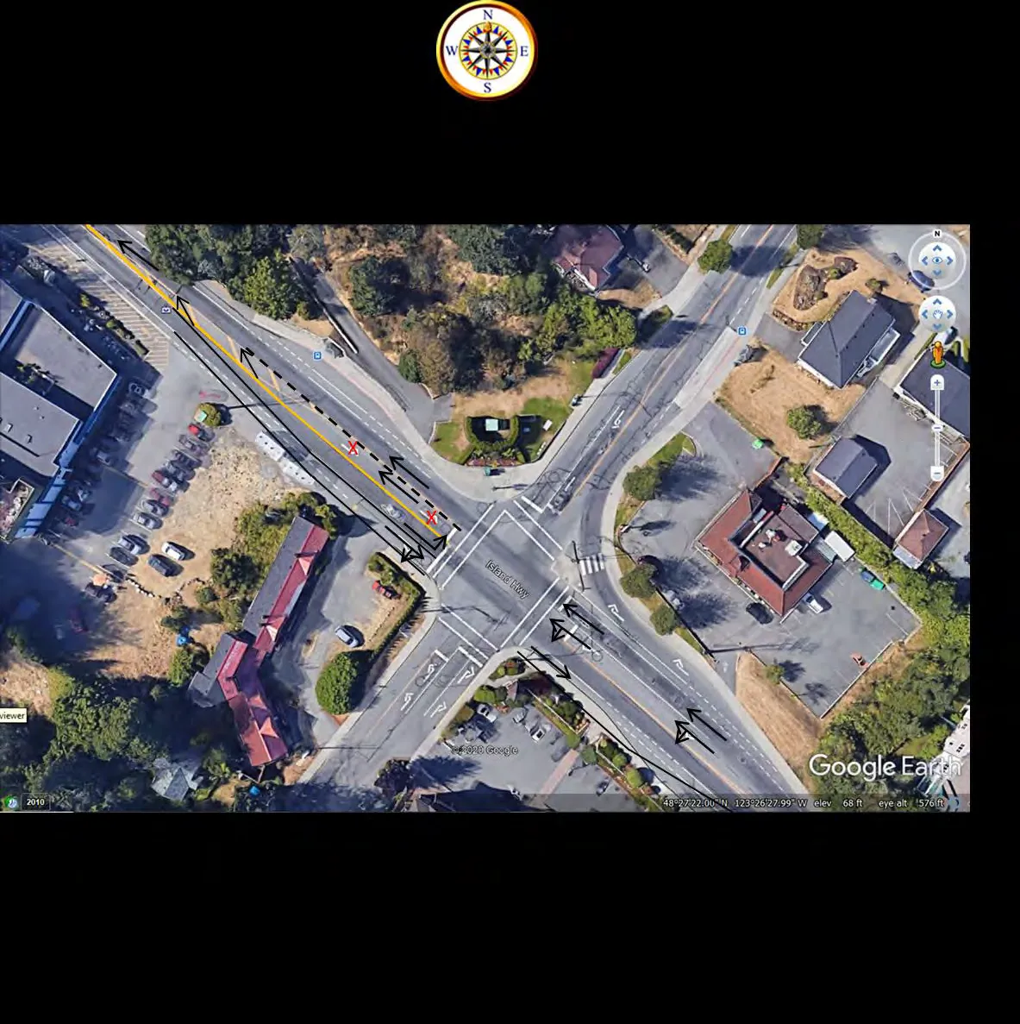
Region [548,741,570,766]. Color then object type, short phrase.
gray car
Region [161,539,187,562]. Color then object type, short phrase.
white car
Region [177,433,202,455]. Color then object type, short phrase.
gray car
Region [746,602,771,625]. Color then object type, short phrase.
black car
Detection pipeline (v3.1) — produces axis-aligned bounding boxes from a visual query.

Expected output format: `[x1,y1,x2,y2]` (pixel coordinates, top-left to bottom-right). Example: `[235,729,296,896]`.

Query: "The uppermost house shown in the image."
[552,224,624,297]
